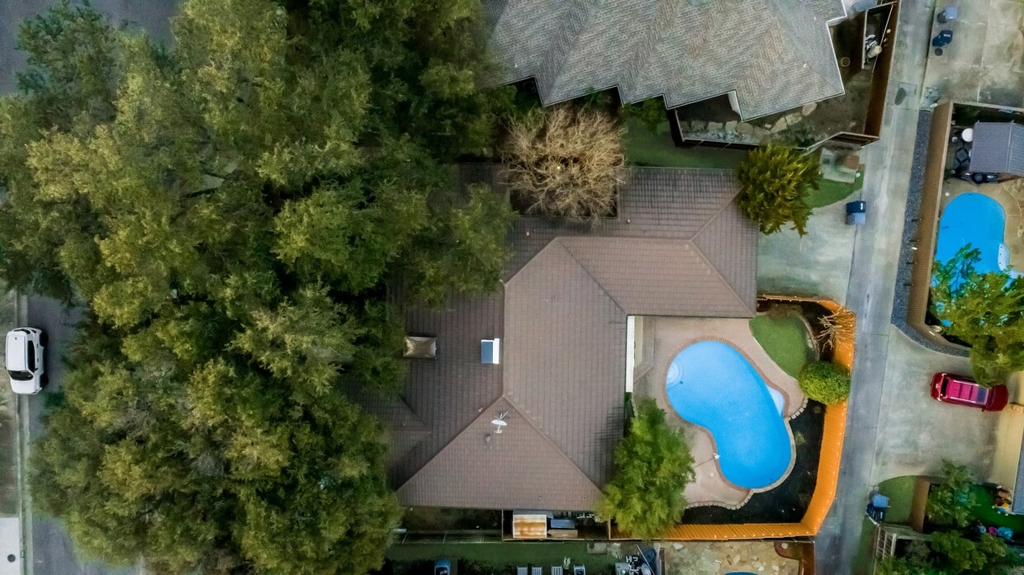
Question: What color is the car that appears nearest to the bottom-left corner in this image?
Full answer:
The car that appears nearest to the bottom-left corner is white.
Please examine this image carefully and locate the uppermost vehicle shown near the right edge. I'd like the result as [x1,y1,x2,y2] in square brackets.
[925,373,1008,413]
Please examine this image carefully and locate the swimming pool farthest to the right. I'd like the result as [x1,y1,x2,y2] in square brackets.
[933,189,1024,330]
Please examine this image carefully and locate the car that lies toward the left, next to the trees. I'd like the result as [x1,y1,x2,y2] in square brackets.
[5,327,49,395]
